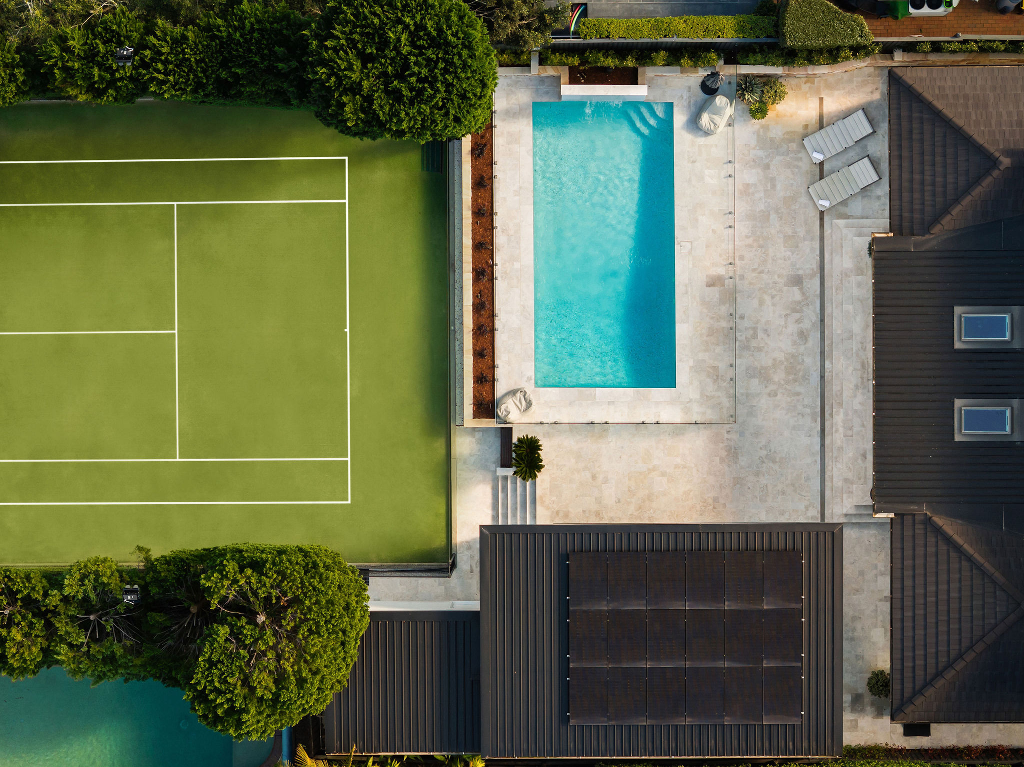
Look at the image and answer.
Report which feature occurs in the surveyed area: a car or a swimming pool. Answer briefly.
swimming pool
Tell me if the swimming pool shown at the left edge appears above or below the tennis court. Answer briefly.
below it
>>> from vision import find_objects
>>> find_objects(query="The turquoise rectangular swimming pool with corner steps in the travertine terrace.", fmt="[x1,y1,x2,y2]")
[520,89,687,400]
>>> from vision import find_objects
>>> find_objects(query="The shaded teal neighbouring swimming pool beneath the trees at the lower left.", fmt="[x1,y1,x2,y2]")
[0,650,273,767]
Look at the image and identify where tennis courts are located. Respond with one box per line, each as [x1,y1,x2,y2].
[0,100,448,565]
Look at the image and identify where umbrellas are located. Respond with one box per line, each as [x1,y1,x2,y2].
[701,67,724,95]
